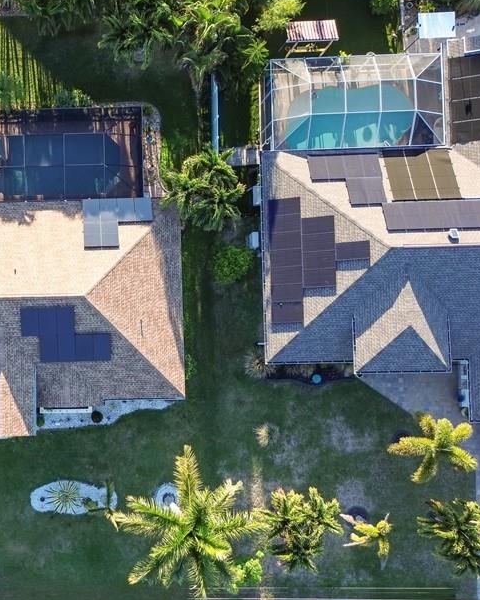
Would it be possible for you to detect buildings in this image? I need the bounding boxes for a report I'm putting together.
[0,199,185,439]
[261,36,480,422]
